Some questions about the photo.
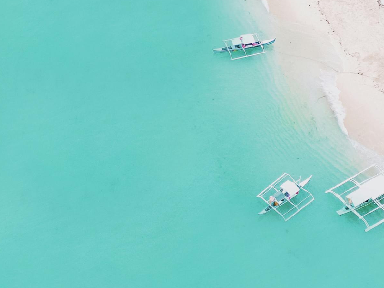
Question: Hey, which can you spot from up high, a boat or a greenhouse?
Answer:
boat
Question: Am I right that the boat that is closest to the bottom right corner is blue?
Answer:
No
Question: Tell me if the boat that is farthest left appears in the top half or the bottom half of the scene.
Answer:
top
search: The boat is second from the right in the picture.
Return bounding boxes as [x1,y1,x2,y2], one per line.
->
[257,173,315,221]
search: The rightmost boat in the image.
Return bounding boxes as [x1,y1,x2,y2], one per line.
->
[325,164,384,231]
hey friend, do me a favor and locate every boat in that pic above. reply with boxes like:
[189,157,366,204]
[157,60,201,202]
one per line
[257,173,315,221]
[212,33,276,60]
[325,164,384,231]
